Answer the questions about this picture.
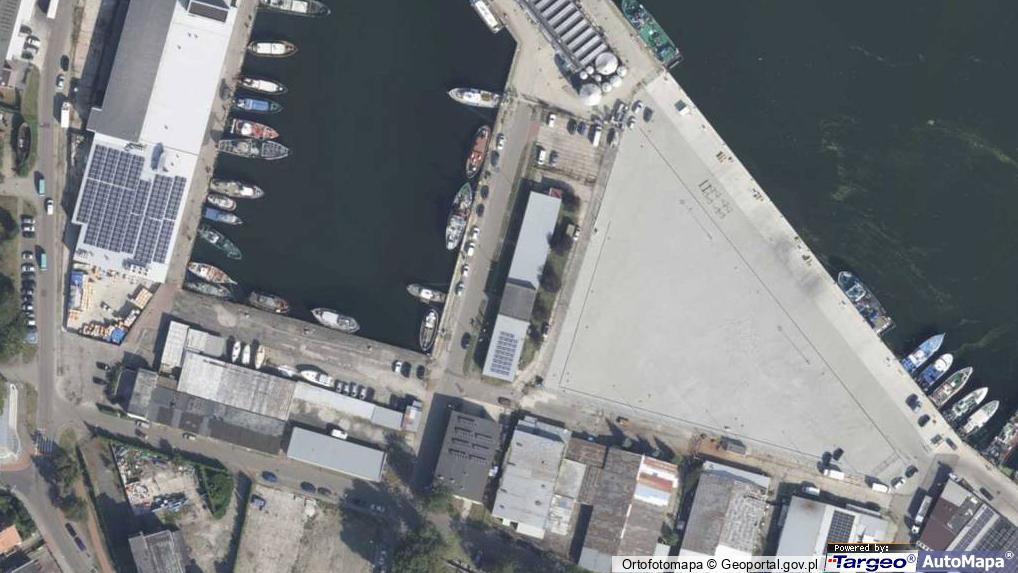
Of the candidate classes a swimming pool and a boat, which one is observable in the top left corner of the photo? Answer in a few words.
boat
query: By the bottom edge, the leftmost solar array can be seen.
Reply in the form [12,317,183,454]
[828,511,855,545]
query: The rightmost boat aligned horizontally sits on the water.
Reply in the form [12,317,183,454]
[448,87,502,107]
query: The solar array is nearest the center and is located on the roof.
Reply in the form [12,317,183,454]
[491,330,521,374]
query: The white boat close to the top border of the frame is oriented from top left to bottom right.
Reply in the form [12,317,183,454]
[467,0,502,33]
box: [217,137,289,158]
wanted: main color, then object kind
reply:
gray ship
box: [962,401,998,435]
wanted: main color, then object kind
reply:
white boat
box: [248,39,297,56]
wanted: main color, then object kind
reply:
white boat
